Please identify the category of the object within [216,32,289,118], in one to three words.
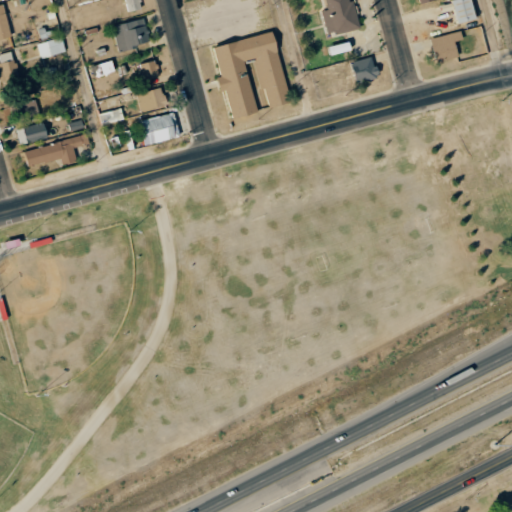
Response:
building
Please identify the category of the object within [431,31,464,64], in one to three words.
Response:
house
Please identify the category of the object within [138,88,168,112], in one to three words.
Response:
house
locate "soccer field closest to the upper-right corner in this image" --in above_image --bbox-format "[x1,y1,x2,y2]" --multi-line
[325,196,437,284]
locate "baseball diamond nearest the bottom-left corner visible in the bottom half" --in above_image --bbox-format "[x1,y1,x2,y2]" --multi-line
[0,224,134,394]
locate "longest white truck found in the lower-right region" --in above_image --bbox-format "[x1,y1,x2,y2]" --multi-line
[434,368,474,391]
